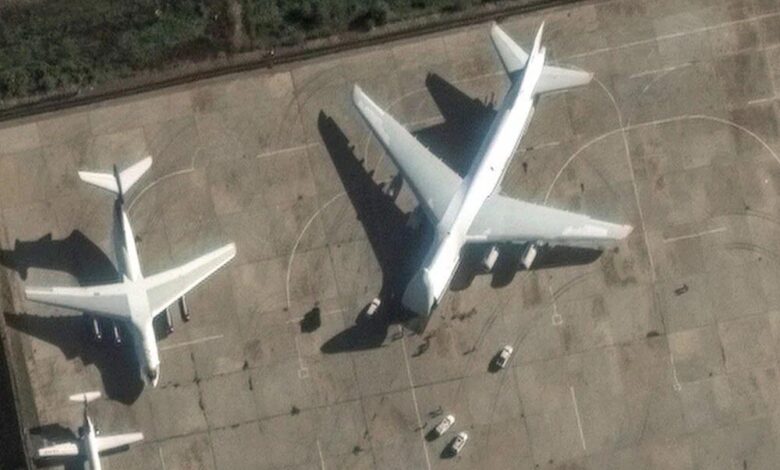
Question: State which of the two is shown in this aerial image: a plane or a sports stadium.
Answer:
plane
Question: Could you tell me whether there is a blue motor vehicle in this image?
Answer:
No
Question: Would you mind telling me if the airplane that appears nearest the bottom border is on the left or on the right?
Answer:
left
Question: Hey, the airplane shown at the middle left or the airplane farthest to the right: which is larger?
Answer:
the airplane farthest to the right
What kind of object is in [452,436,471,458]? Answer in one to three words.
vehicle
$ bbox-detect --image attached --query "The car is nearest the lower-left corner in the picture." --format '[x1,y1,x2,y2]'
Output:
[309,309,321,329]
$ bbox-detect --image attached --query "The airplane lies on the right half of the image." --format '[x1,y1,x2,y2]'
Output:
[353,19,634,336]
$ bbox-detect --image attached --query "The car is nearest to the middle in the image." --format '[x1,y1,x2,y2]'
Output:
[367,300,380,319]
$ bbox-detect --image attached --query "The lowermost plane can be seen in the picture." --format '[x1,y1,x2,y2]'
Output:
[38,392,143,470]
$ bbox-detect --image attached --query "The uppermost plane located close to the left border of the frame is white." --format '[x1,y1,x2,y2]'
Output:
[23,156,235,388]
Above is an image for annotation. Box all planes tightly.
[38,392,143,470]
[353,19,634,336]
[23,156,235,388]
